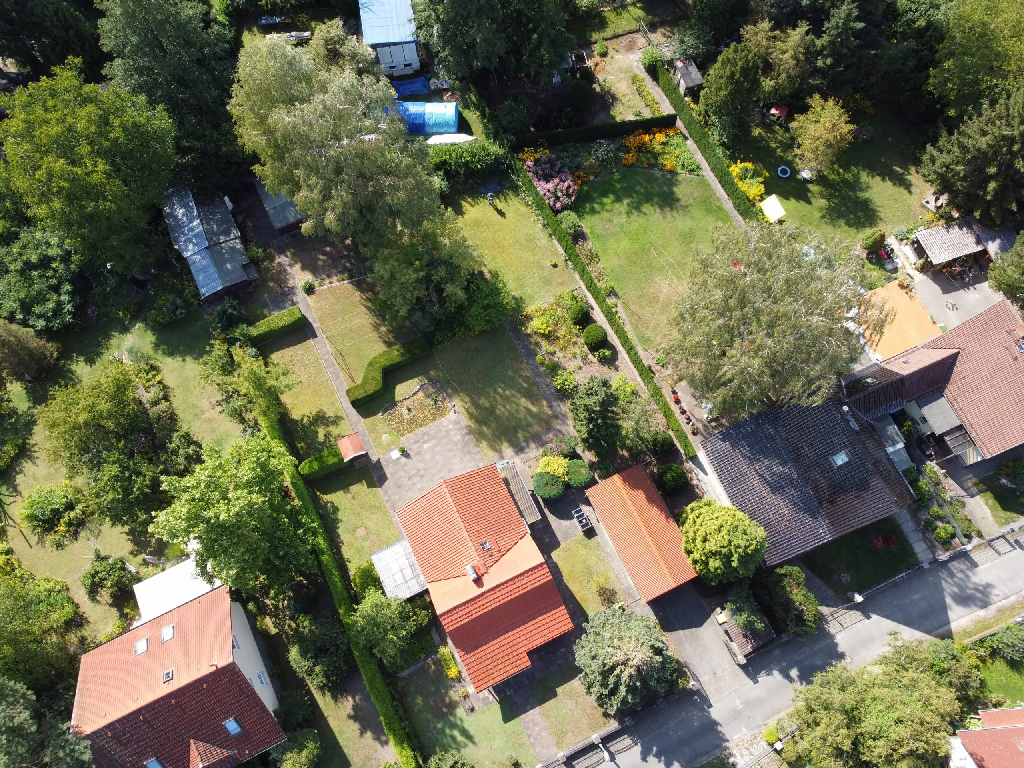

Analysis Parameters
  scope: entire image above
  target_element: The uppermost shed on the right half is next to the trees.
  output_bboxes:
[671,59,703,100]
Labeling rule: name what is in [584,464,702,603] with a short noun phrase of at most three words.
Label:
building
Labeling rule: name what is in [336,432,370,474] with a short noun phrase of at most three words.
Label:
shed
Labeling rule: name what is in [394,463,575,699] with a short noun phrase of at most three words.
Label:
house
